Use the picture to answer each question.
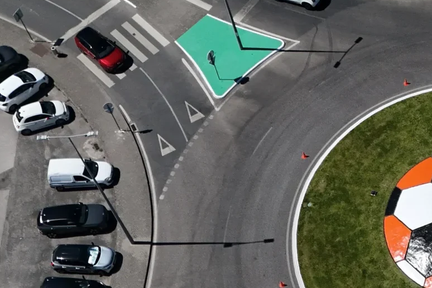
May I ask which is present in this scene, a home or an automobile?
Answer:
automobile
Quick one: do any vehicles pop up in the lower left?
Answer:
Yes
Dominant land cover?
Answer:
paved ground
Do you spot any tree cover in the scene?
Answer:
No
